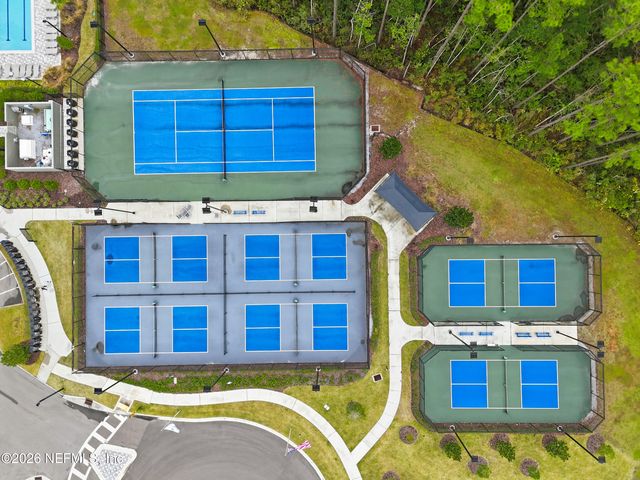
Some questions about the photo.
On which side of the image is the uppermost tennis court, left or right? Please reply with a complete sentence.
The uppermost tennis court is on the left side of the image.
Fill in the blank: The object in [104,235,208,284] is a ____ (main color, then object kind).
blue sports court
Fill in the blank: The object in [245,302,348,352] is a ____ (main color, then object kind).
blue sports court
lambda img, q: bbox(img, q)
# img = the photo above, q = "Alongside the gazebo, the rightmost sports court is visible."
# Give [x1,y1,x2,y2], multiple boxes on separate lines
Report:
[423,244,589,321]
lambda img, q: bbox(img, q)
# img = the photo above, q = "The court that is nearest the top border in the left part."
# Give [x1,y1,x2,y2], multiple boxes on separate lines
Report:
[83,60,364,201]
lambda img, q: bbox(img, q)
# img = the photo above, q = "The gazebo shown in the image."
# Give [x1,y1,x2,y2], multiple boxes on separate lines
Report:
[374,171,438,232]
